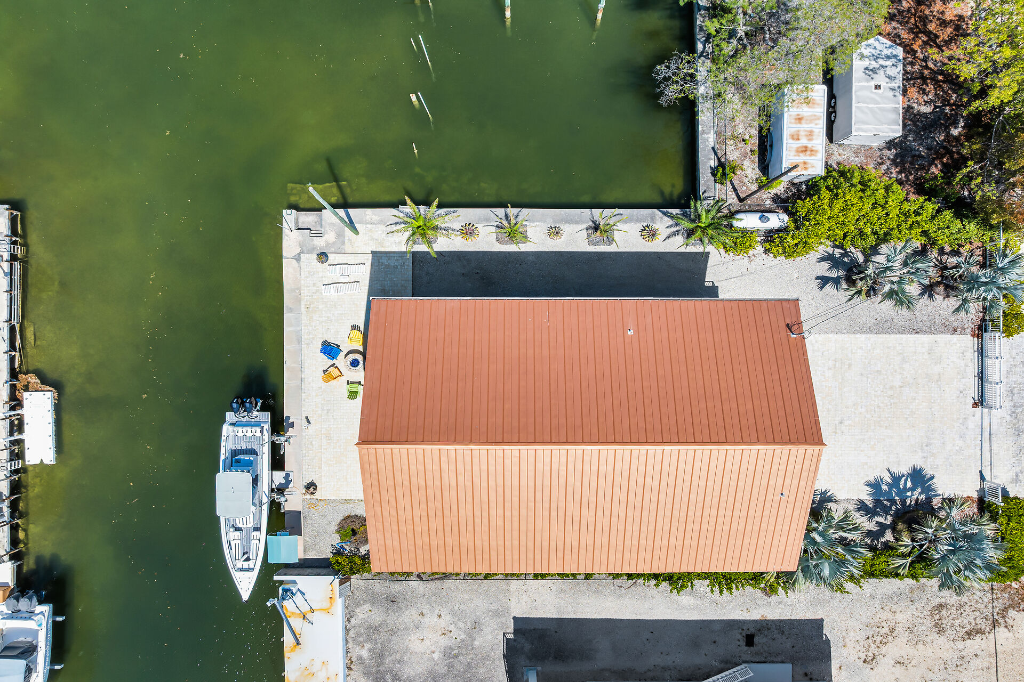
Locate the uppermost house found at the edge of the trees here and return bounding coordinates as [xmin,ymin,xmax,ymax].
[356,296,827,572]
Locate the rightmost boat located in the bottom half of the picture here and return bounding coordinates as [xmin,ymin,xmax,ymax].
[215,396,275,607]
